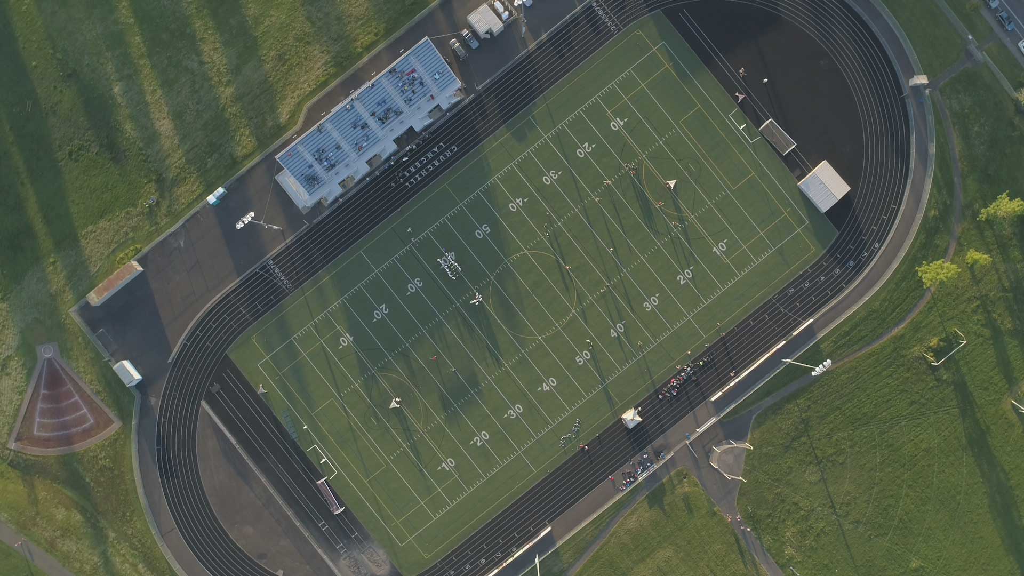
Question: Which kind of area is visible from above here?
sports ground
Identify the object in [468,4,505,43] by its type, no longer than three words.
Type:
shed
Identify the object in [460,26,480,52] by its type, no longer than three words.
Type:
vehicle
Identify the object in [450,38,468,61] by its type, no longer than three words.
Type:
car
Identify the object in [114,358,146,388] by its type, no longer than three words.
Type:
shed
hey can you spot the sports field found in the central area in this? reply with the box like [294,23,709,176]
[227,10,838,576]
